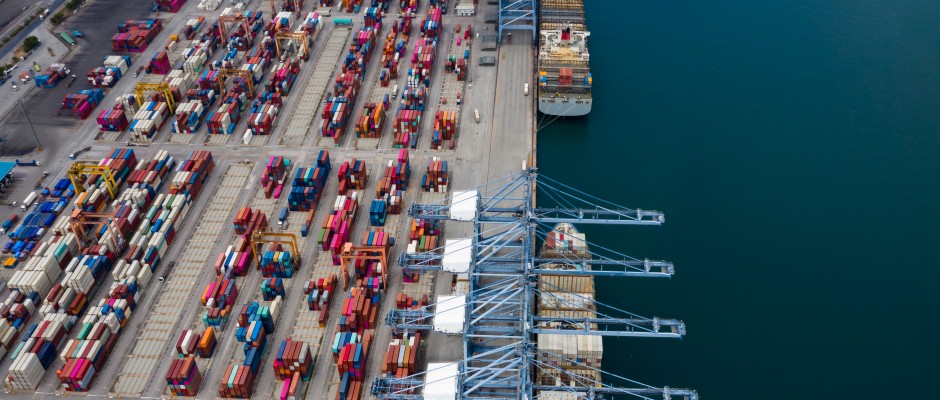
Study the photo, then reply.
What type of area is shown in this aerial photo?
port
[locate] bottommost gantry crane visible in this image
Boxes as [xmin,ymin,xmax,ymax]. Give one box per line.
[372,338,703,400]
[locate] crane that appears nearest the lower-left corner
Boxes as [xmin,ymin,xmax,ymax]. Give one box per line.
[68,203,125,251]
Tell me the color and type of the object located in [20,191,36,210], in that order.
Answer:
white vehicle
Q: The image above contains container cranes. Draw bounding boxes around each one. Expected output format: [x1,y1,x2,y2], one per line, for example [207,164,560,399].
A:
[397,214,677,342]
[274,26,308,61]
[341,241,389,293]
[65,152,112,195]
[215,62,253,100]
[133,72,175,109]
[408,166,665,287]
[216,15,251,49]
[386,271,690,398]
[372,338,703,400]
[68,203,125,251]
[249,221,300,269]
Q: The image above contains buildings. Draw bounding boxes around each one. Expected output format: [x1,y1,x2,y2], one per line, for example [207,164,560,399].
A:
[454,4,474,15]
[0,159,19,185]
